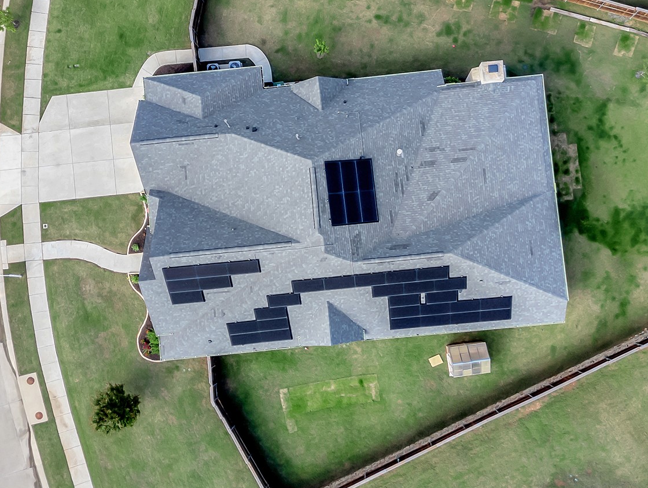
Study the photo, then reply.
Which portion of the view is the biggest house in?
center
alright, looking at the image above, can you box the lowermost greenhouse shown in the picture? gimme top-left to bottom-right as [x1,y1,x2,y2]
[446,339,491,377]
